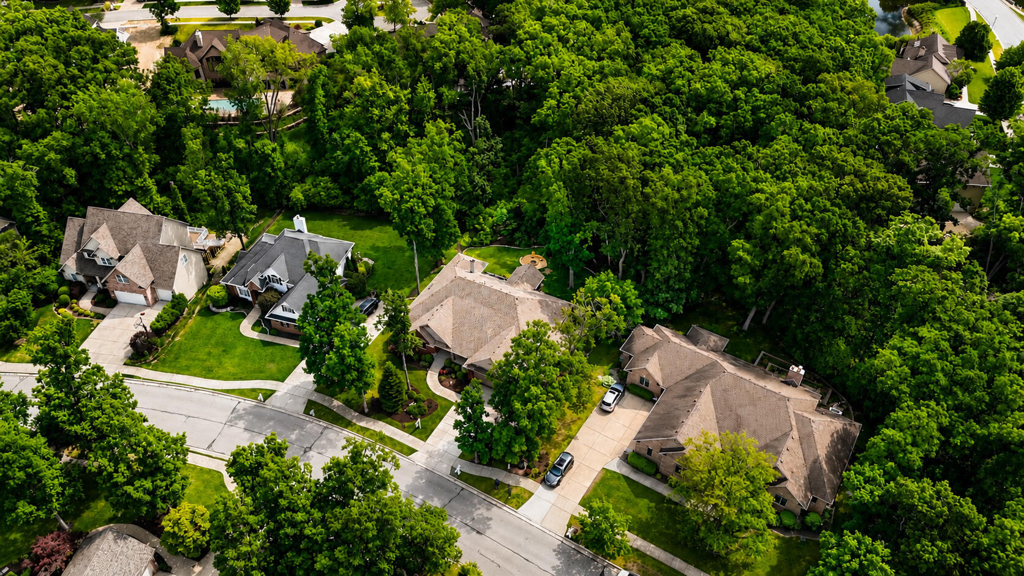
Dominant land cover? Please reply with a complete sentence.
The scene is dominated by trees.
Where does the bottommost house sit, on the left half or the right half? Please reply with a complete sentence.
The bottommost house is on the left side of the image.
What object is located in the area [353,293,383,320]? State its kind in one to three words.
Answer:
car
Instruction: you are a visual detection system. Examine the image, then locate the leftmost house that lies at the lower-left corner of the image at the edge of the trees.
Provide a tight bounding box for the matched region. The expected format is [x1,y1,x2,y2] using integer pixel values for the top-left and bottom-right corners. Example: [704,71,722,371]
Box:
[45,525,164,576]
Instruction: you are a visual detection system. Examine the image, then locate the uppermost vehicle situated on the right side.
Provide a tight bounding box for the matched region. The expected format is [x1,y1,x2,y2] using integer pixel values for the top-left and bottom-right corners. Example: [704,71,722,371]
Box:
[599,381,630,414]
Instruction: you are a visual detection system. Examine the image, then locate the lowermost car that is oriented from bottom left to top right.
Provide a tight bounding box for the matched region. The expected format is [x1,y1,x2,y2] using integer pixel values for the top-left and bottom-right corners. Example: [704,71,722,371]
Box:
[544,451,578,491]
